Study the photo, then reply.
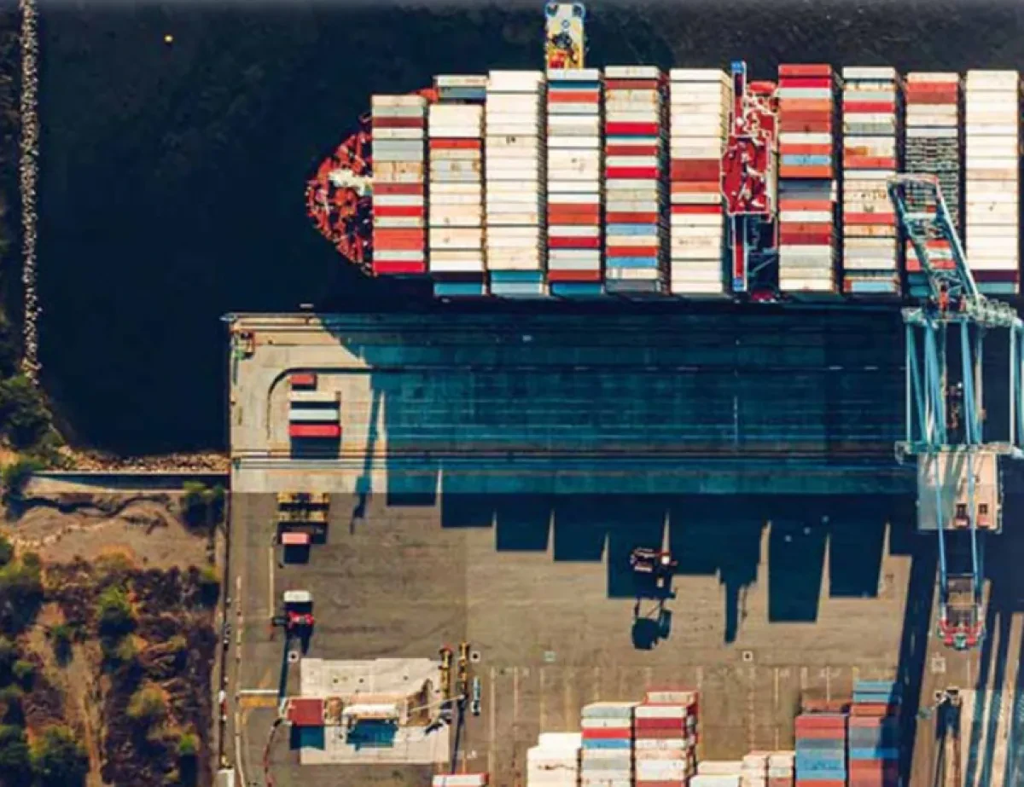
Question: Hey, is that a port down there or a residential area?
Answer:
port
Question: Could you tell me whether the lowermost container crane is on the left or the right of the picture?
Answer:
right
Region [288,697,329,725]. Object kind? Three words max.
shed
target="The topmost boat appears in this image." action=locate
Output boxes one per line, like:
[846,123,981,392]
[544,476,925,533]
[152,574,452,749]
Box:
[545,1,587,74]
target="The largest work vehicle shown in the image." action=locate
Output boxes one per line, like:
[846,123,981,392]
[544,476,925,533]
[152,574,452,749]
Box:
[633,548,679,572]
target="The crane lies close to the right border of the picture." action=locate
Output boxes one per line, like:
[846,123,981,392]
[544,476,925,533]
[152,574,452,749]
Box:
[888,167,1024,651]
